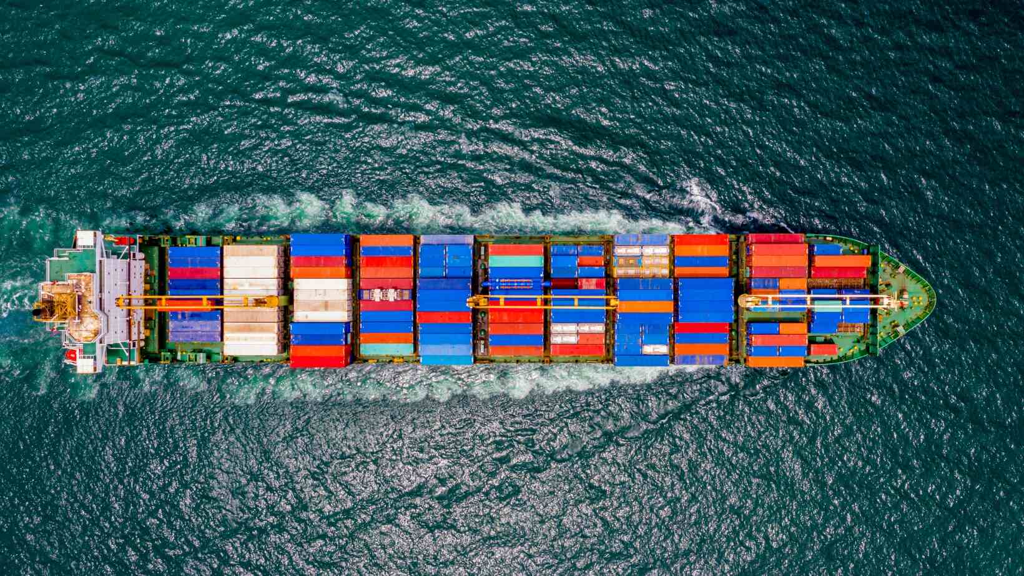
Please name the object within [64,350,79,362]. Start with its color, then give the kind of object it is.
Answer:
red boat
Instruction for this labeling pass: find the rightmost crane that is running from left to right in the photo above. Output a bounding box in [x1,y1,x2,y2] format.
[728,294,896,309]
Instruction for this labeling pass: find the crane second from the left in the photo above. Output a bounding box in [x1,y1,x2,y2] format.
[471,294,618,309]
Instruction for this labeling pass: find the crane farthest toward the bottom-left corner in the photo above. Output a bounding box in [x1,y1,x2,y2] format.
[119,294,294,309]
